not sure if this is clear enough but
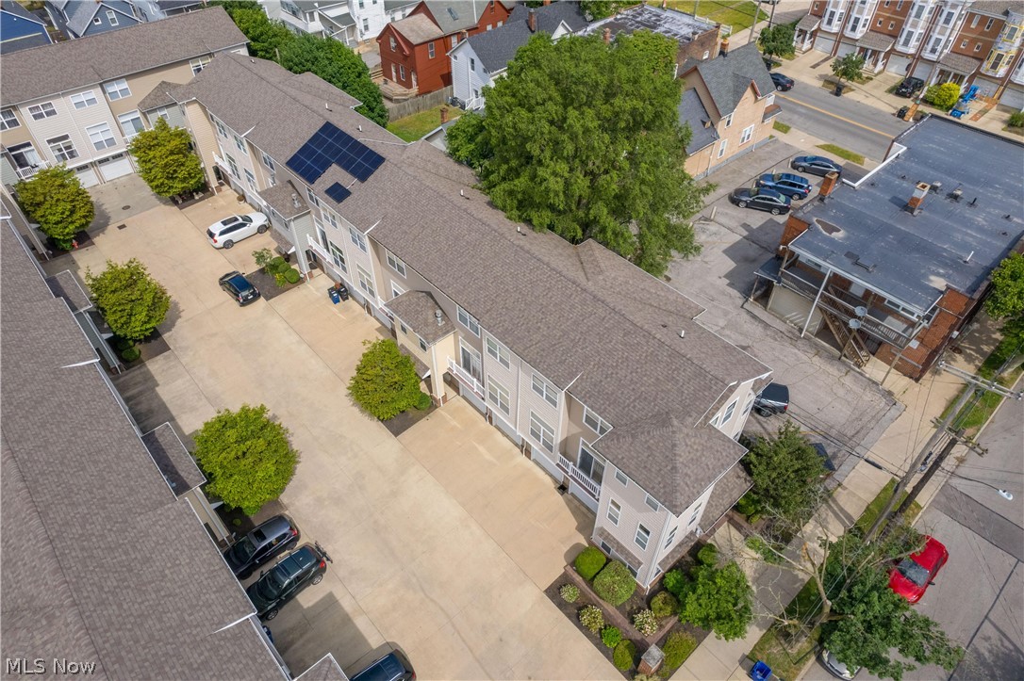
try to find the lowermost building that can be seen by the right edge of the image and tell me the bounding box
[745,114,1024,386]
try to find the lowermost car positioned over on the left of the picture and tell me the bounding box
[356,647,420,681]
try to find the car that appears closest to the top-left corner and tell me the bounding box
[203,211,272,248]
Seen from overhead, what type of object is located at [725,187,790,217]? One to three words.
car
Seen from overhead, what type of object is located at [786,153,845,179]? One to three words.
car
